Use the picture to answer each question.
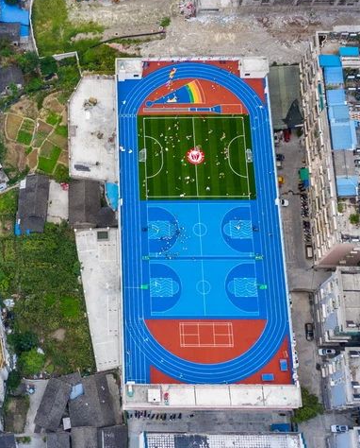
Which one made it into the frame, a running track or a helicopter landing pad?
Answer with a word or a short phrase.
running track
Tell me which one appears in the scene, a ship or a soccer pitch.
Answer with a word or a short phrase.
soccer pitch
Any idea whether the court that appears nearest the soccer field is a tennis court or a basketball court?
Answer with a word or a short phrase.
basketball court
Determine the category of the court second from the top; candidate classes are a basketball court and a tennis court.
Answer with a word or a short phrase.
basketball court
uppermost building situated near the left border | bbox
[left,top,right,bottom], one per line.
[0,23,19,48]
